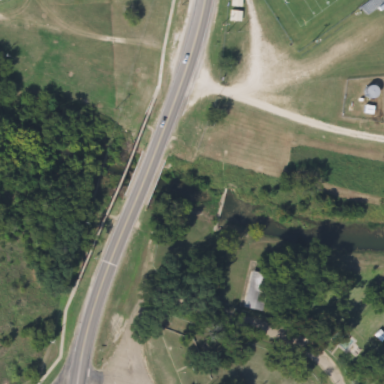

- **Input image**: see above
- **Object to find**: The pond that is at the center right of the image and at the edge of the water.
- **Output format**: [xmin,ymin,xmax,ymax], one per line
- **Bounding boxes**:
[216,190,384,253]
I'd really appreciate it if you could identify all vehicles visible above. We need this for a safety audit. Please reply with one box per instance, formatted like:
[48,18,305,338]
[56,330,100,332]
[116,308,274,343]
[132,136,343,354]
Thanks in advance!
[183,54,189,64]
[160,118,166,128]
